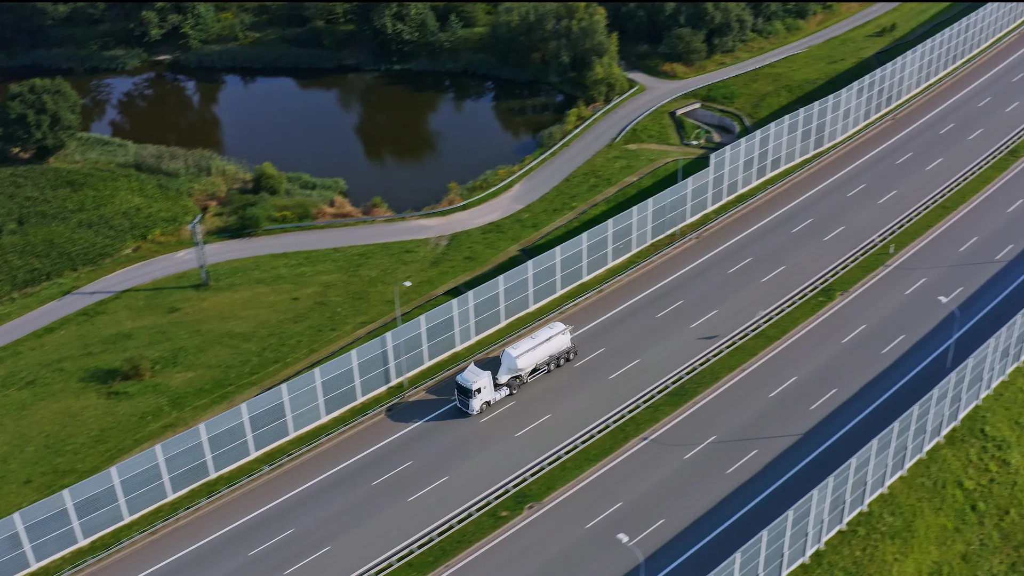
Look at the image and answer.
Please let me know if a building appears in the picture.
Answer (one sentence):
No, I find no building anywhere in the image.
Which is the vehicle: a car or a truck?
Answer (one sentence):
I'd say the vehicle is a truck.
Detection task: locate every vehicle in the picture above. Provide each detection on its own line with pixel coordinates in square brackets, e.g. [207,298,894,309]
[452,320,581,415]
